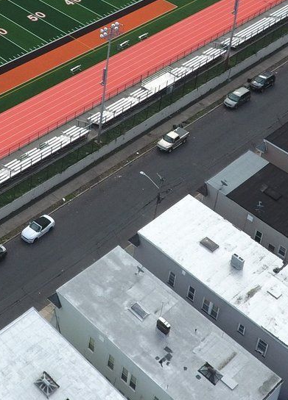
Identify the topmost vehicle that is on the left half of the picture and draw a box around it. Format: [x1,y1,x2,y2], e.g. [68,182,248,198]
[19,216,57,244]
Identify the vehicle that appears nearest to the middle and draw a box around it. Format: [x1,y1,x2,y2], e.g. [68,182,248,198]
[155,125,190,153]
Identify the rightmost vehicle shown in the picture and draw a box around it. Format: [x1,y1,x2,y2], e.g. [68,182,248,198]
[249,70,275,92]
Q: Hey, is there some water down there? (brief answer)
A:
No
